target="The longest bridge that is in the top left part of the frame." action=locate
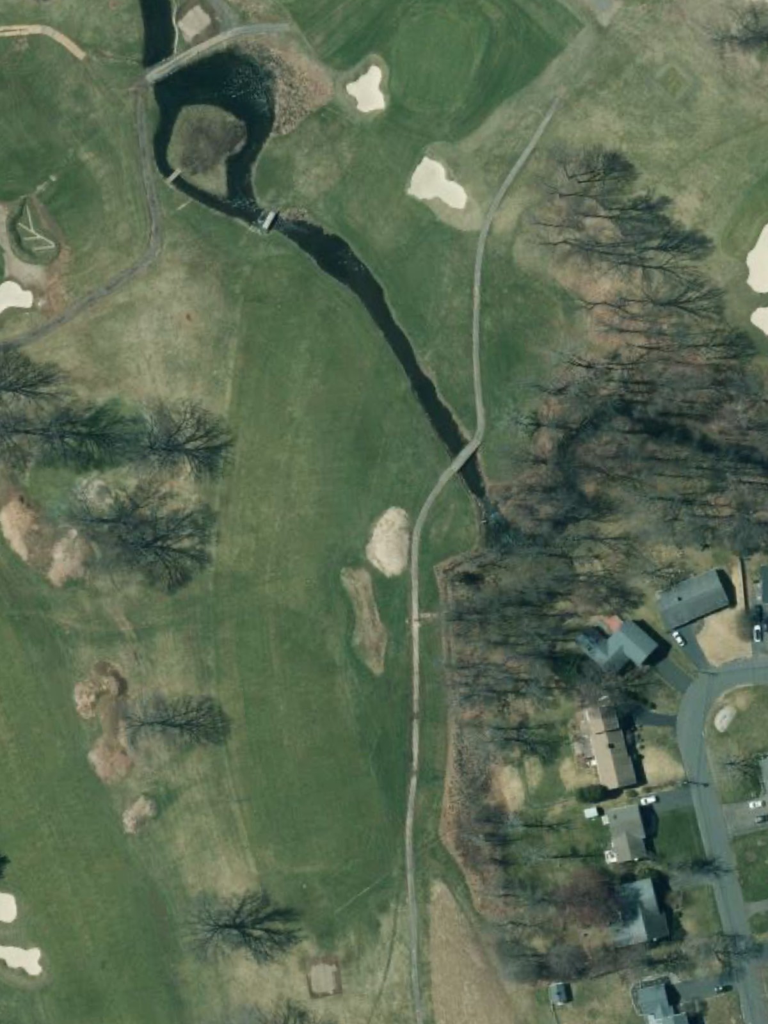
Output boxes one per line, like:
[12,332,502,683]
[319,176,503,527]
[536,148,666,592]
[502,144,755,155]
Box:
[141,52,186,85]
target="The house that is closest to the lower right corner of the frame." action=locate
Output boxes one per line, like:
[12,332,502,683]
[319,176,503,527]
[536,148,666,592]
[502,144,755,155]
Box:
[637,981,689,1024]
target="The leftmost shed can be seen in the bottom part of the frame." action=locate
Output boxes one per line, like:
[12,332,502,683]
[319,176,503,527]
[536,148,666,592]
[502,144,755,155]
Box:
[551,985,569,1004]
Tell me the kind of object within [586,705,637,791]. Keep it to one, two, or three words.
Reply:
house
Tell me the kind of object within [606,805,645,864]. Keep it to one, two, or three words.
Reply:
house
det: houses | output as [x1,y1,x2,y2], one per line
[586,705,637,791]
[618,879,676,946]
[658,569,731,630]
[606,805,645,864]
[573,619,659,672]
[760,565,768,604]
[758,757,768,800]
[637,981,689,1024]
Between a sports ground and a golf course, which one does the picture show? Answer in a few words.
golf course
